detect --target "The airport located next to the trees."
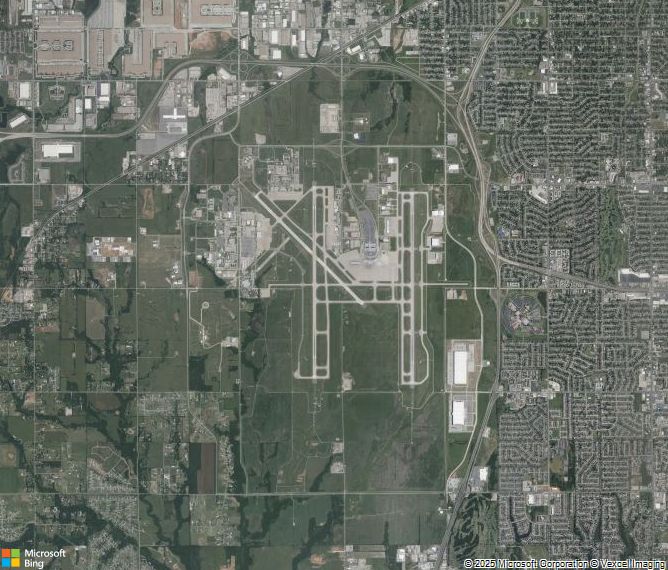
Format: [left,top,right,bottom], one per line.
[254,157,470,385]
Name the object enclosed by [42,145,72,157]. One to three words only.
building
